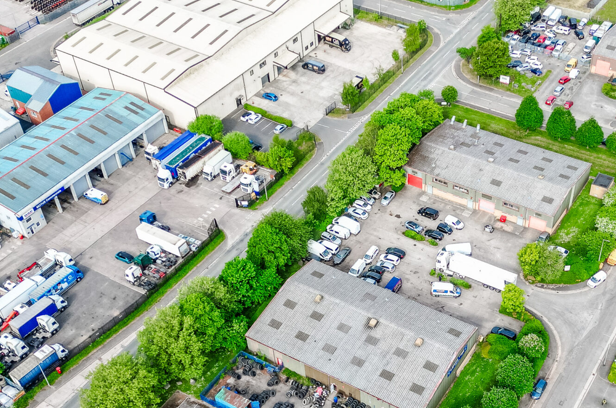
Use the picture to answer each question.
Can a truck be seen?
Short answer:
Yes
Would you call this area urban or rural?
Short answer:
urban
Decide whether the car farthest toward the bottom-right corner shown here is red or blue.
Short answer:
blue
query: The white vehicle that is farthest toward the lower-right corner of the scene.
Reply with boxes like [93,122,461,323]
[585,274,608,290]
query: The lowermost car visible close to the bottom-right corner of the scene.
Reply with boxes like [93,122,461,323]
[530,378,550,401]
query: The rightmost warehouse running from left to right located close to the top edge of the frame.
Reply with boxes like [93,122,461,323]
[59,0,365,129]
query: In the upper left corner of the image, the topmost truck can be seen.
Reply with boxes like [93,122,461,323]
[69,0,125,31]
